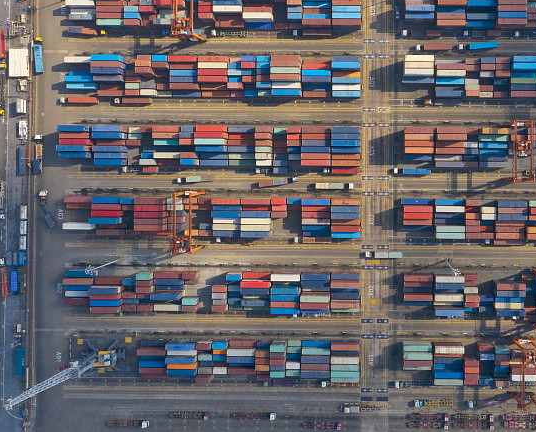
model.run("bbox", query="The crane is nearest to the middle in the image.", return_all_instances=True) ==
[171,190,207,257]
